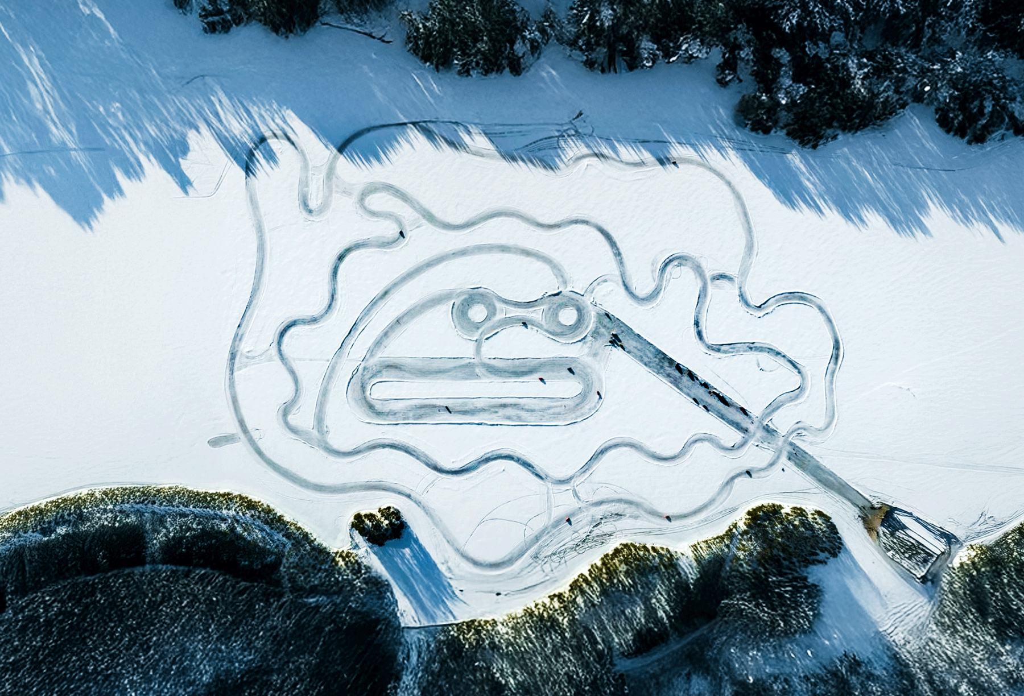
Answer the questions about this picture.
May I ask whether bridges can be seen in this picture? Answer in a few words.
No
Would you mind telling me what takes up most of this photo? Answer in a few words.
water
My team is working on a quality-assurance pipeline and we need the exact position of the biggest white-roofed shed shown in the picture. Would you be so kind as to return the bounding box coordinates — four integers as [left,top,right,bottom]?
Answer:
[894,515,946,556]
